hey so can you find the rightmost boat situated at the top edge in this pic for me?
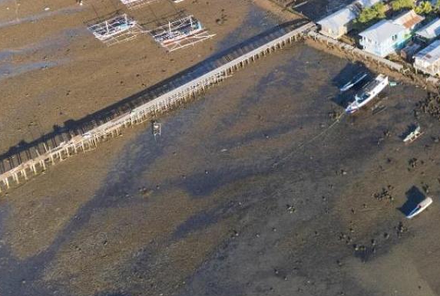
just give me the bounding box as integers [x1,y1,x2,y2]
[146,10,219,59]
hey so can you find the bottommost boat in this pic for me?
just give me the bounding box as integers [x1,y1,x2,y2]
[406,192,433,217]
